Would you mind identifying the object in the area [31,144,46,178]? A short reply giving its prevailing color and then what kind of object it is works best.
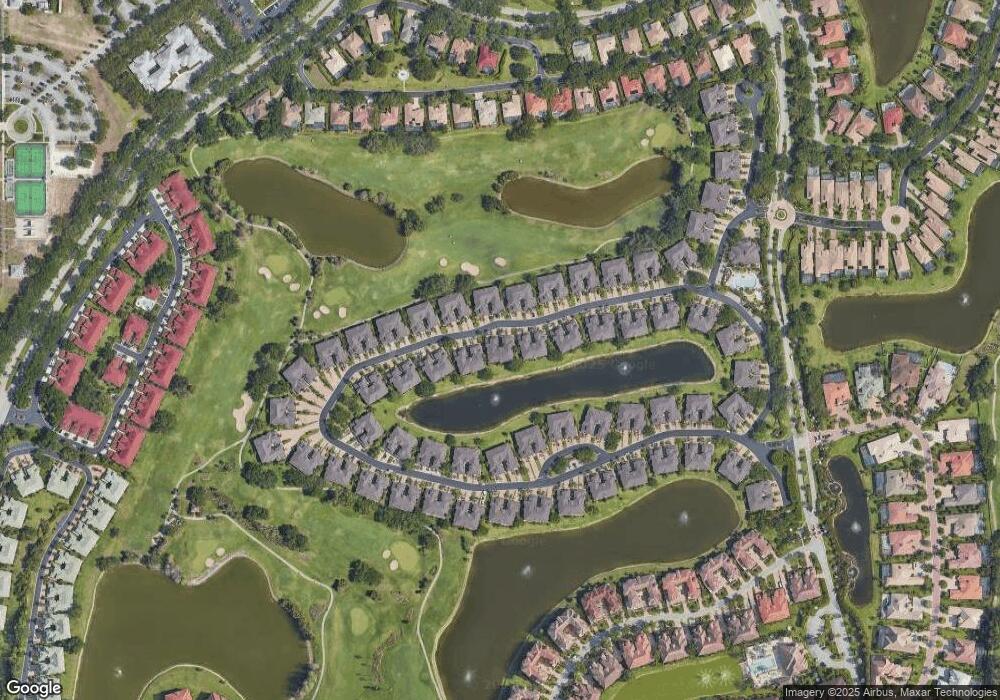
green tennis court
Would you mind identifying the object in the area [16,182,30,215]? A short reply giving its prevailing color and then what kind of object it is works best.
green tennis court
